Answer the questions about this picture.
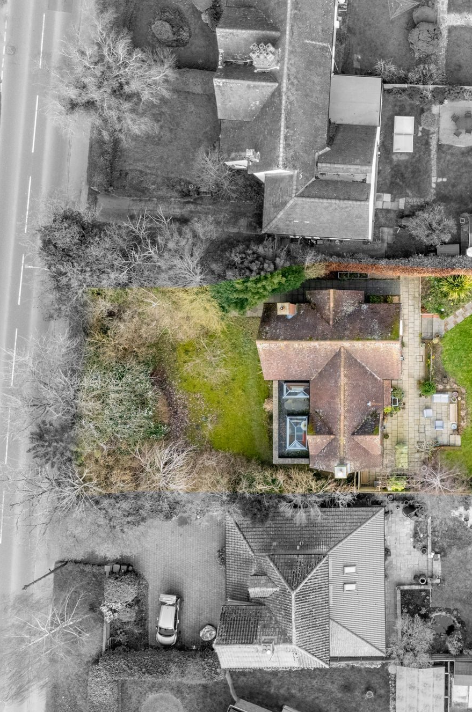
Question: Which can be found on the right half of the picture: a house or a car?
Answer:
house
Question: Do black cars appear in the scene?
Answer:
No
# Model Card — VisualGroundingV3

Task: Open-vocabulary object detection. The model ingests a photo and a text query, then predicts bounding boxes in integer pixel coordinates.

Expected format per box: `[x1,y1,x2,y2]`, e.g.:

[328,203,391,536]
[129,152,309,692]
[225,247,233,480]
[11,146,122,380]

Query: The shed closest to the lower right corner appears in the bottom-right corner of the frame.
[453,667,472,686]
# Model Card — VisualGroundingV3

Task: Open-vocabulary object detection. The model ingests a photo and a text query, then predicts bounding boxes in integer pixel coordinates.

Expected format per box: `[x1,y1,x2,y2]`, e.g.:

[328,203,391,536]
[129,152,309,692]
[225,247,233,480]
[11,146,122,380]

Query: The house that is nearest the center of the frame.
[256,289,404,478]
